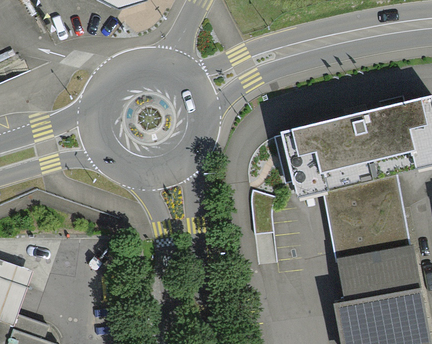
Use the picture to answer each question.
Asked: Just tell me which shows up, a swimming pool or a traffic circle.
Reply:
traffic circle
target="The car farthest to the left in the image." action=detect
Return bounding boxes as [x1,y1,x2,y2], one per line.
[26,245,51,258]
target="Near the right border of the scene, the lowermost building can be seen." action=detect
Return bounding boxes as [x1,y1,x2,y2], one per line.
[334,288,431,344]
